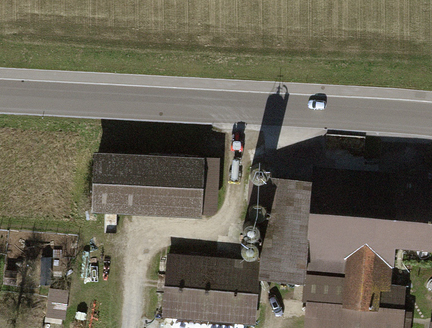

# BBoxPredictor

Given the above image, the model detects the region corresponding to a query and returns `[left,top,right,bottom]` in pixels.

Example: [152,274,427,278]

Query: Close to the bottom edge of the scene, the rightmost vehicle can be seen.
[269,296,283,314]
